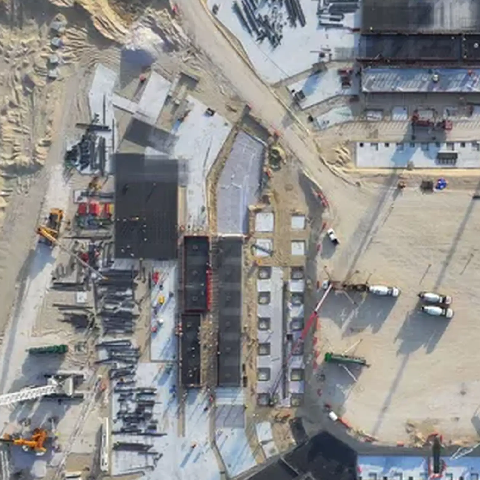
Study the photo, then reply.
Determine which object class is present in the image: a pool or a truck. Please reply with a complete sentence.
There is a truck in the scene.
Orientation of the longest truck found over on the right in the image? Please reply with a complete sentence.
In this picture, the longest truck found over on the right lies diagonally.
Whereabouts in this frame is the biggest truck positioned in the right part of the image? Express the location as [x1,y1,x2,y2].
[274,258,366,398]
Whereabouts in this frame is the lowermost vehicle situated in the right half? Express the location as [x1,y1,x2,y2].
[325,407,340,427]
